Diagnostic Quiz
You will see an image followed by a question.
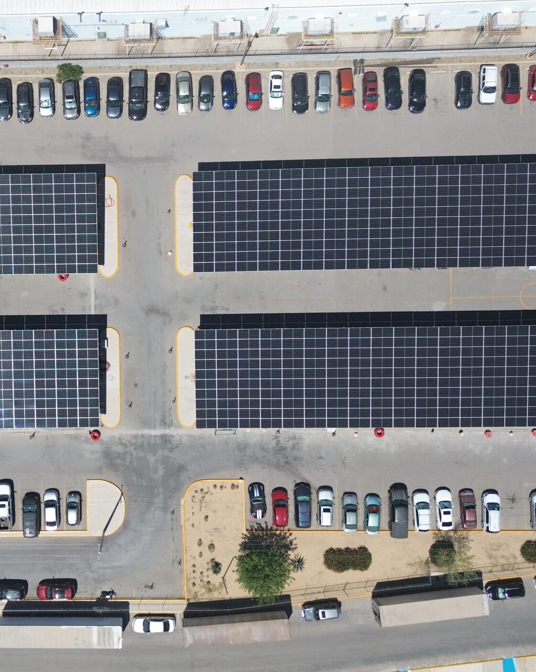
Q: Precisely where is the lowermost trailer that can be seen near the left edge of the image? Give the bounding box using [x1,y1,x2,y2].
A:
[0,613,123,649]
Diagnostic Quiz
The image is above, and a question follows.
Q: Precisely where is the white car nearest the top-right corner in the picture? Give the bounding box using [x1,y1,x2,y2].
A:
[476,63,499,105]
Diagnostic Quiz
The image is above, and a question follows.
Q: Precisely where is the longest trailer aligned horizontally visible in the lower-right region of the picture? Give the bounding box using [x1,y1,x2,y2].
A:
[368,585,488,628]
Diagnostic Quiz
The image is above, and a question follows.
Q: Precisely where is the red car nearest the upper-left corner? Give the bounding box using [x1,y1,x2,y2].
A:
[244,72,263,111]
